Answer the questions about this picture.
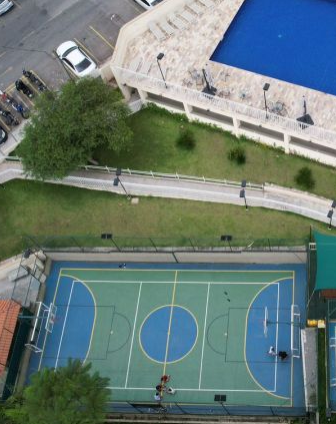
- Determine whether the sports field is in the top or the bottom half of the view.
bottom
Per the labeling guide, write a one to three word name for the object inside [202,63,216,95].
umbrella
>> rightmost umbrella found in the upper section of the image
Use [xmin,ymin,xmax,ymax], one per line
[298,95,313,126]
